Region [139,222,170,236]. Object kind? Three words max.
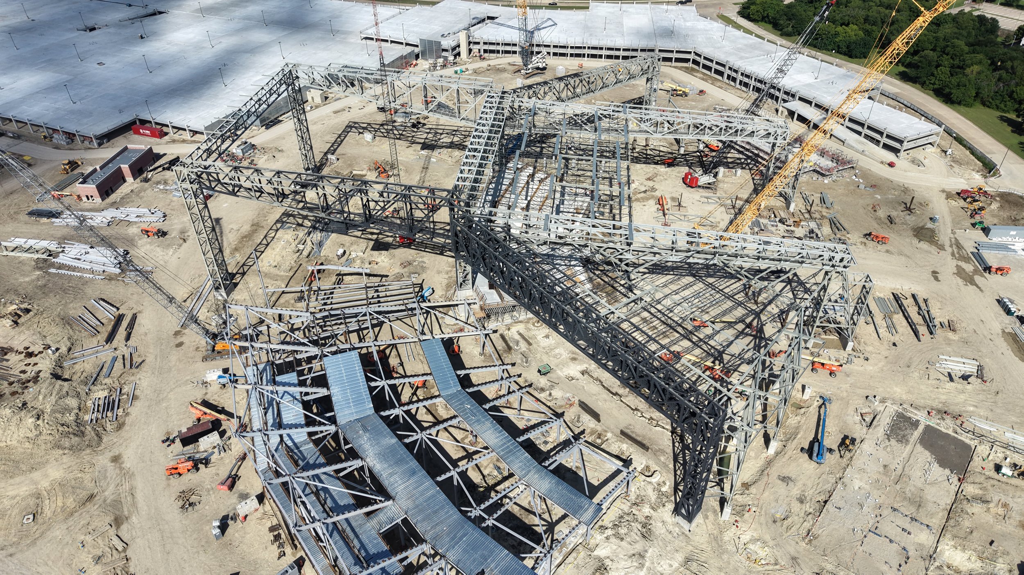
work vehicle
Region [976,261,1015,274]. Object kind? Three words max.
vehicle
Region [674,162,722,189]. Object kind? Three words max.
crane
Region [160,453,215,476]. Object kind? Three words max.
work vehicle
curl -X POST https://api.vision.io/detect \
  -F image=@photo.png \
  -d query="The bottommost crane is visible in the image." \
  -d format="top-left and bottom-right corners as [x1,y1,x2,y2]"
[191,327,254,363]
